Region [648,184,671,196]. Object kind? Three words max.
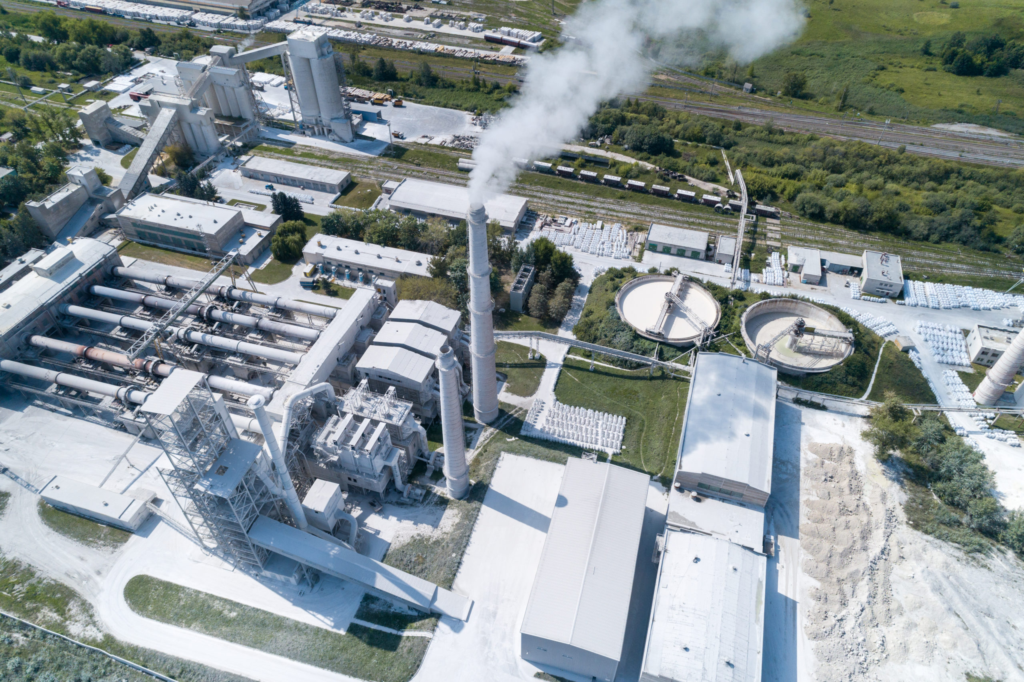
rail car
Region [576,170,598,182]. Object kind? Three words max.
rail car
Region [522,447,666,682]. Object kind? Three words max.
warehouse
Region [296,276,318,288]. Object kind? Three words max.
vehicle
